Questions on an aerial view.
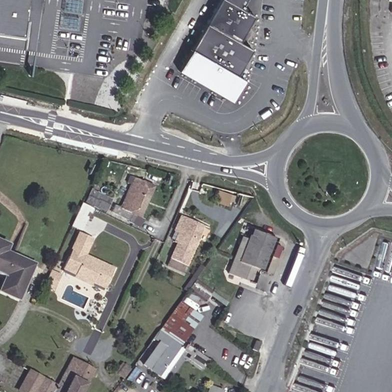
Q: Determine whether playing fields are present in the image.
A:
No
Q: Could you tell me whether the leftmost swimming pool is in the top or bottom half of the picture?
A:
bottom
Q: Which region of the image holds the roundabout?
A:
right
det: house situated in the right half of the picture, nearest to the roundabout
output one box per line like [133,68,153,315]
[229,228,279,280]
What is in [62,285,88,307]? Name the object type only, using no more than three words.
swimming pool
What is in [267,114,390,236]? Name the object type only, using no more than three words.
roundabout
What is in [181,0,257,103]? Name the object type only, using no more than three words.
building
